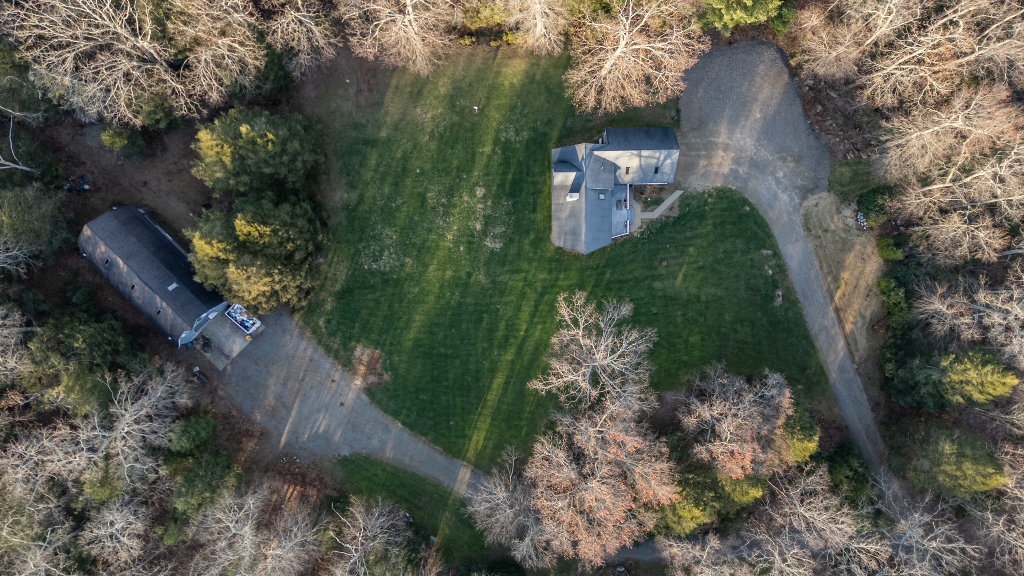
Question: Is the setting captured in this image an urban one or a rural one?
rural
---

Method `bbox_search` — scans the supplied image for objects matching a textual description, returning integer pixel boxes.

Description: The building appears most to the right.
[551,127,680,255]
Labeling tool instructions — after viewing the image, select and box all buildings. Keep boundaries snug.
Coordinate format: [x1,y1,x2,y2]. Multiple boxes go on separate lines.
[551,127,680,255]
[79,204,232,346]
